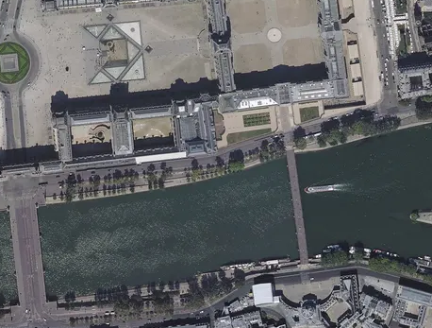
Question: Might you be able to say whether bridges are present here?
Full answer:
Yes, this view includes a bridge.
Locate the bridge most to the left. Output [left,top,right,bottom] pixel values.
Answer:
[0,178,57,322]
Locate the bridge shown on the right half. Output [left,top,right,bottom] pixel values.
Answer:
[286,144,310,269]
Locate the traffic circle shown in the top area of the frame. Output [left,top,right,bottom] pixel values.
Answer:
[0,33,40,93]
